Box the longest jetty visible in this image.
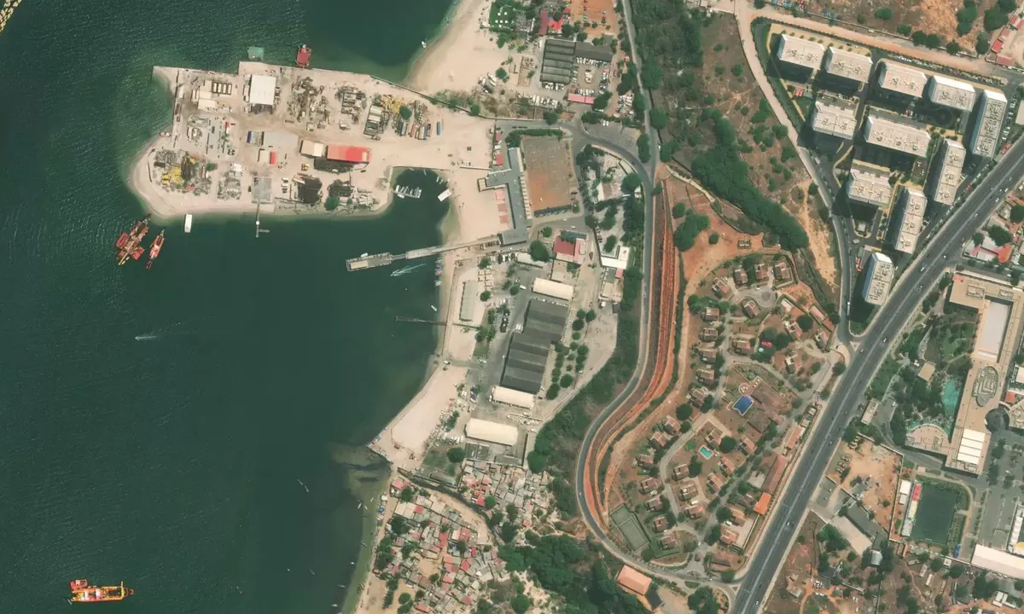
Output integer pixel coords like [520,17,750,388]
[405,235,500,259]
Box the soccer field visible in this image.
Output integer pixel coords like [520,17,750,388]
[910,482,956,543]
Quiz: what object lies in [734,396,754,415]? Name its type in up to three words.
swimming pool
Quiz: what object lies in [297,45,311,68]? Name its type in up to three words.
ship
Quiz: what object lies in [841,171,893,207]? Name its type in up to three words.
building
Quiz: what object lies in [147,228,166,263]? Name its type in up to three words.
ship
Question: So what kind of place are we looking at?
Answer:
port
